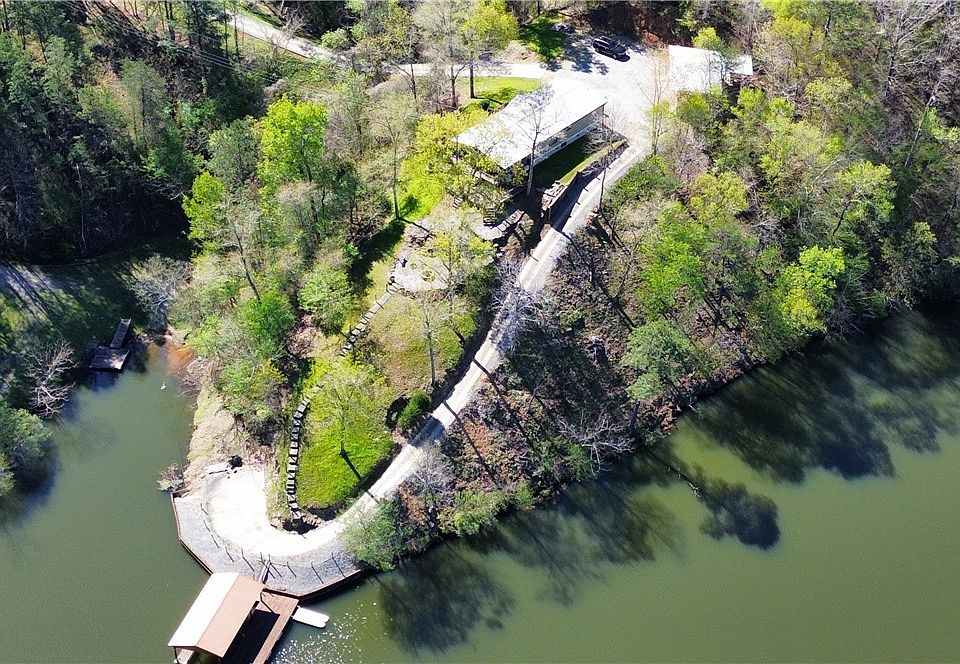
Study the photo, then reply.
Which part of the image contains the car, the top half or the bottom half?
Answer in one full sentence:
Seen from above, the car lies in the top half of the view.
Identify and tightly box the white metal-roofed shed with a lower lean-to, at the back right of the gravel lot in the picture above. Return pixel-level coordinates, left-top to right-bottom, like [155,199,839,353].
[666,46,753,110]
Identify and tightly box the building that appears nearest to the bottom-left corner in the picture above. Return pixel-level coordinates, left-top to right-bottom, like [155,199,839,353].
[170,572,263,664]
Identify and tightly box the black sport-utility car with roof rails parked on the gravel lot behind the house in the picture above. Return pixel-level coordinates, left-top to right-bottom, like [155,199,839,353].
[592,38,629,60]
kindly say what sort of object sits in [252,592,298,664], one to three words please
pier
